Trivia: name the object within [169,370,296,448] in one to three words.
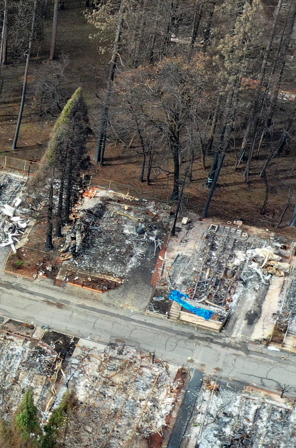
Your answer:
house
